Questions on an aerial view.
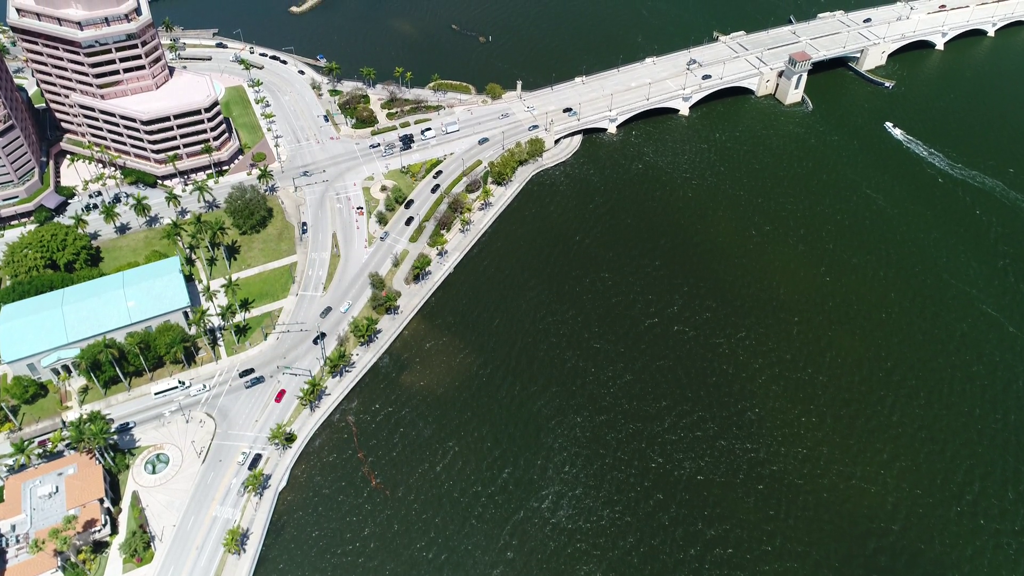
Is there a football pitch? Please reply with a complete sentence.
No, this view has no football pitch in it.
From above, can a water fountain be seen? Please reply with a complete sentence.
Yes, the image includes a water fountain.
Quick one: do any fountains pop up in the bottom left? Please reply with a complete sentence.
Yes, looking in the bottom left, one can make out a fountain.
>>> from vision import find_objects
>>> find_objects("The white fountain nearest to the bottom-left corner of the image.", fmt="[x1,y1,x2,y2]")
[132,443,183,488]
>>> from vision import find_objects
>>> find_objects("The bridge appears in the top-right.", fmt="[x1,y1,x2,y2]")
[487,0,1024,167]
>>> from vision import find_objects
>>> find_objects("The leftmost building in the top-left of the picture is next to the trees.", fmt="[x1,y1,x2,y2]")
[0,77,65,224]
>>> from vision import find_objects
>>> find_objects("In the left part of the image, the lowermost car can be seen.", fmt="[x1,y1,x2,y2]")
[235,479,250,498]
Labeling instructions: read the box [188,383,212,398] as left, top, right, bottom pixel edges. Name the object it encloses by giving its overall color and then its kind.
white vehicle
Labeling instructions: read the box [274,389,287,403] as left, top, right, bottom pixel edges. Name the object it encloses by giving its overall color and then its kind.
red vehicle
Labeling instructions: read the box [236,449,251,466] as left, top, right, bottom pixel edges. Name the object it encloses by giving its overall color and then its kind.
white car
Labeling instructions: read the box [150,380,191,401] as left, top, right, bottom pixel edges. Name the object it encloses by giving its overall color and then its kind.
white vehicle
